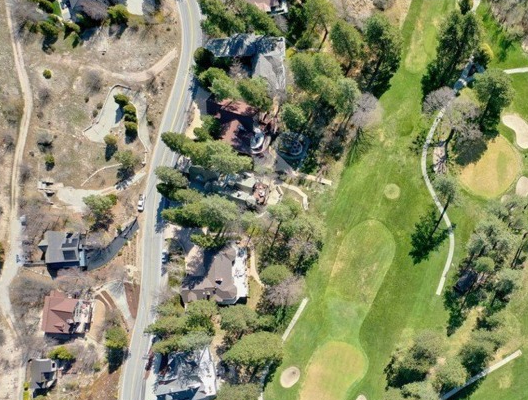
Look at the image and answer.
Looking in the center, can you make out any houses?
Yes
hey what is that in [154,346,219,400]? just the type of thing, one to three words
house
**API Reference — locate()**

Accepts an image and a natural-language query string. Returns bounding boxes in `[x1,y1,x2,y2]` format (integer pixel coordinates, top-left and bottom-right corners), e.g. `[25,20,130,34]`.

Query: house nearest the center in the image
[190,165,271,209]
